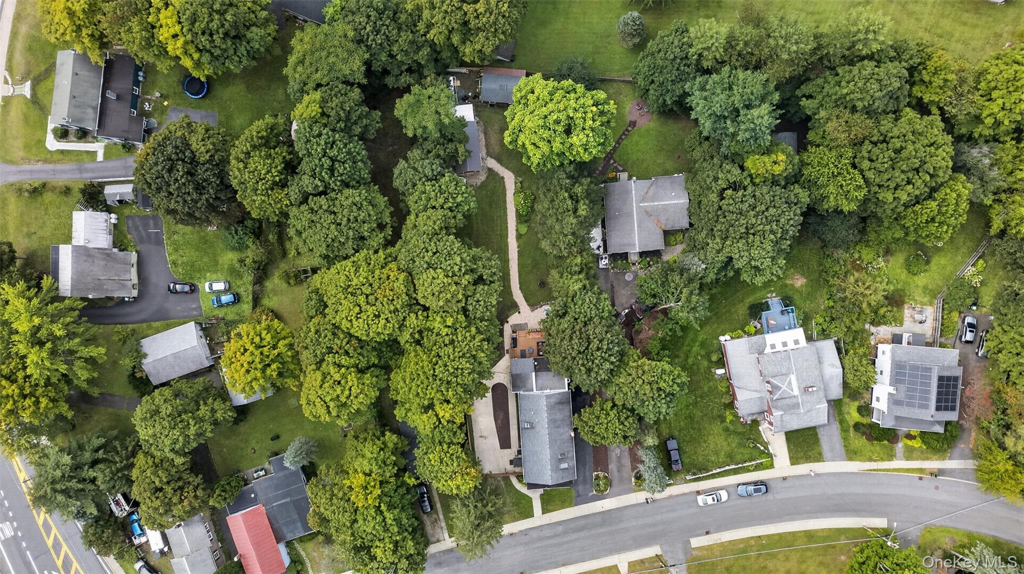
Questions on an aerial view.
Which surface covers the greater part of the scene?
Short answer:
trees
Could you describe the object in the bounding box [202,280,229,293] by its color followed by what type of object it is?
white vehicle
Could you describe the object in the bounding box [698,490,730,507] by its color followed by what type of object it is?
white car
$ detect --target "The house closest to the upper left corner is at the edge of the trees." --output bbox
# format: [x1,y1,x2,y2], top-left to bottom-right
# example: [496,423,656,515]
[50,48,149,144]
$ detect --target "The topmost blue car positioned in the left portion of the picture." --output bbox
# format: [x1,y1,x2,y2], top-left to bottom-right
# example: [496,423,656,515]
[209,293,238,307]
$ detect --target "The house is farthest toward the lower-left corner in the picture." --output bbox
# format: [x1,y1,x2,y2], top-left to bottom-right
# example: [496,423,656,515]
[165,511,224,574]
